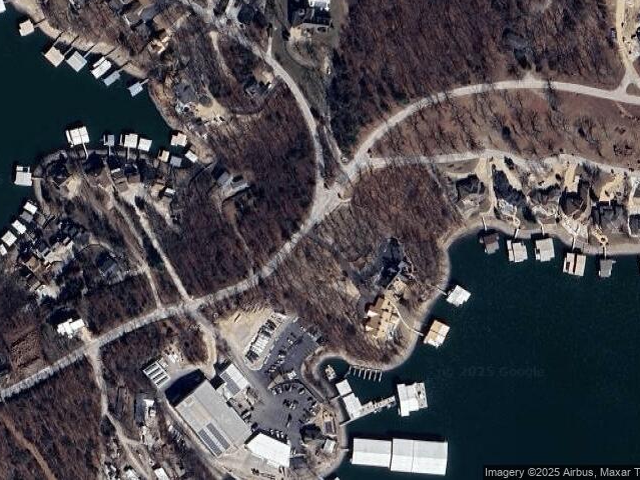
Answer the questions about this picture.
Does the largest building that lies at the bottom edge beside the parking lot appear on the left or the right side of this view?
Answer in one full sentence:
The largest building that lies at the bottom edge beside the parking lot sits on the left side.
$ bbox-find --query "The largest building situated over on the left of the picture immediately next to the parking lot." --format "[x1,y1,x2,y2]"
[175,379,251,458]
